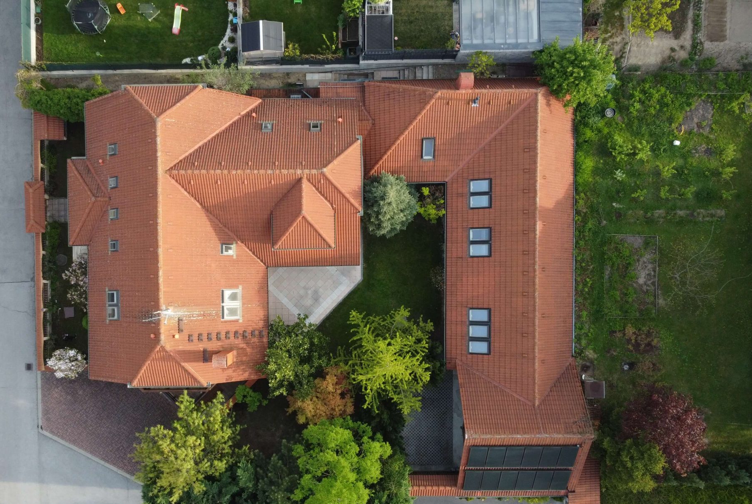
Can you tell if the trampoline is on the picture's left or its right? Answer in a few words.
left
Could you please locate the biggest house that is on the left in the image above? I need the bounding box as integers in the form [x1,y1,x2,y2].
[66,83,365,401]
